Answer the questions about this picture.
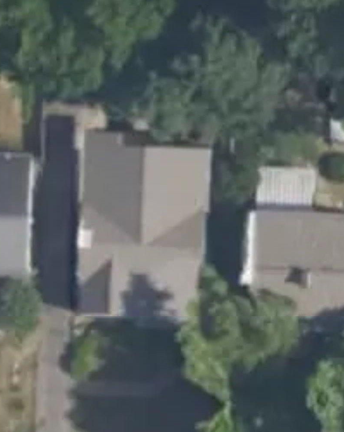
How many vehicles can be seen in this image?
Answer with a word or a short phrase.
zero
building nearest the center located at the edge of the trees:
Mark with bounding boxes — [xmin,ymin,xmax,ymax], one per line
[75,131,212,317]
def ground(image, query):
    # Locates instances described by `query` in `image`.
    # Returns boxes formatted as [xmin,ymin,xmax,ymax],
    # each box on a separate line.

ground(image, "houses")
[242,209,344,331]
[0,150,32,278]
[75,131,212,317]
